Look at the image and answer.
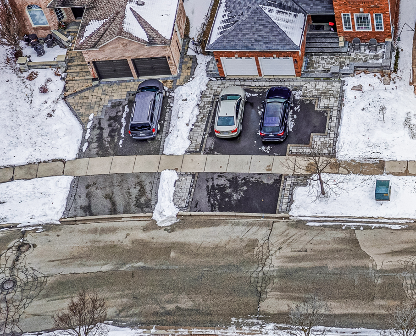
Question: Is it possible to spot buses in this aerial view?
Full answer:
No, I can see no bus in this picture.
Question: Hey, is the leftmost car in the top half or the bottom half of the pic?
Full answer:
The leftmost car sits in the top half of the picture.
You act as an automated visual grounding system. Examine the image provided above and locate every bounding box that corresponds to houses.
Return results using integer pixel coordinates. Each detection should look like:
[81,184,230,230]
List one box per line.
[9,0,190,81]
[203,0,398,78]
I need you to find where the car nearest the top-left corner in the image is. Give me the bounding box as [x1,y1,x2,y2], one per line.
[128,86,167,139]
